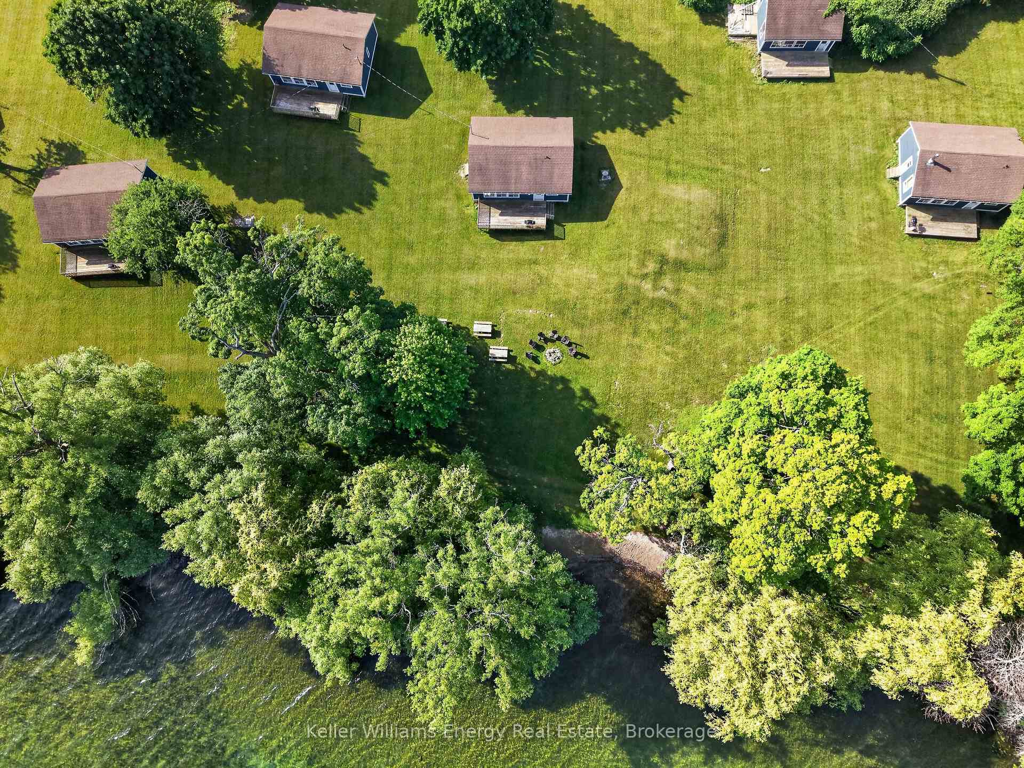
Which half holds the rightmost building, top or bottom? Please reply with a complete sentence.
The rightmost building sits in the top half of the picture.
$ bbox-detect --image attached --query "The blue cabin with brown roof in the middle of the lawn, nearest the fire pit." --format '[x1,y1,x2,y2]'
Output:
[468,116,575,203]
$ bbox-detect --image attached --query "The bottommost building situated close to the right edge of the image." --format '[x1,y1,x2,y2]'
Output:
[895,121,1024,215]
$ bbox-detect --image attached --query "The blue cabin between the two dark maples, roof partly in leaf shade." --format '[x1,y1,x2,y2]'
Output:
[261,2,378,99]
